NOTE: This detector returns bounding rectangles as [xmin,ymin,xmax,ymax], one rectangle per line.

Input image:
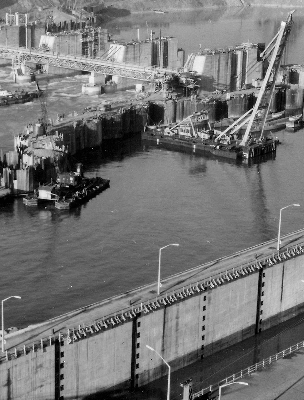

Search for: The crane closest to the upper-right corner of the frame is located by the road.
[141,4,299,159]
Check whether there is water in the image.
Yes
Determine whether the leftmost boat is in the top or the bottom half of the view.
top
